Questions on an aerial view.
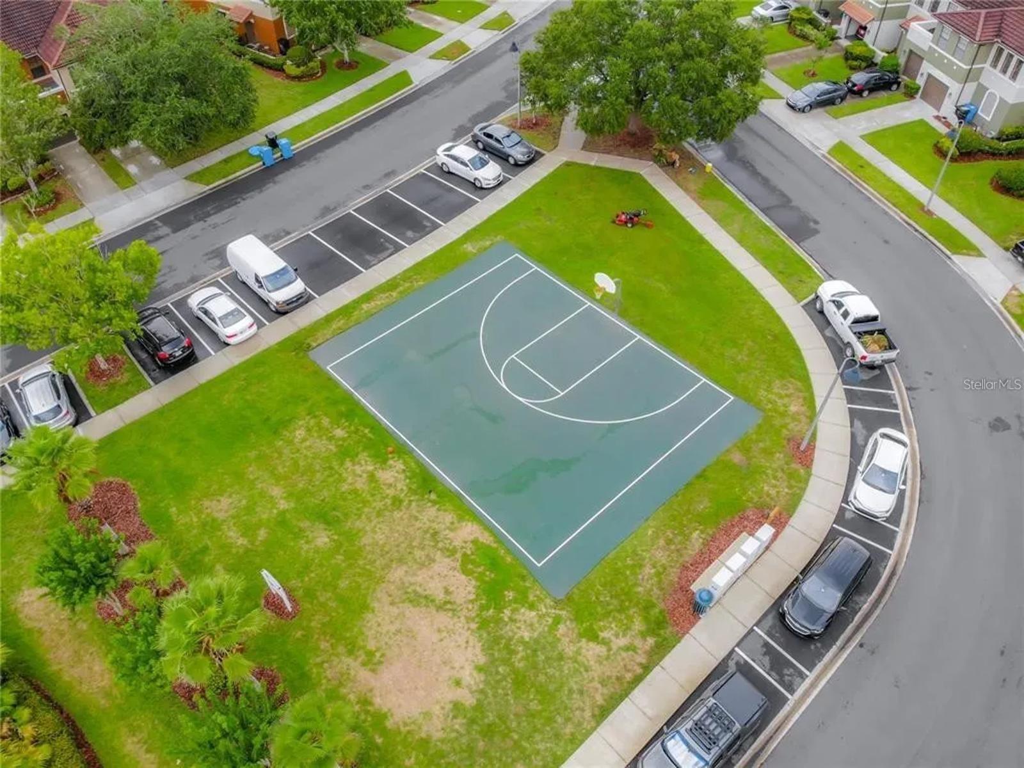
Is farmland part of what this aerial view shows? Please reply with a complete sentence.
No, there's no farmland in this view.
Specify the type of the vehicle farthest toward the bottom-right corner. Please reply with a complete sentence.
The vehicle farthest toward the bottom-right corner in the image is an automobile.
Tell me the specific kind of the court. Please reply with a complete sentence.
It turns out the court is a basketball court.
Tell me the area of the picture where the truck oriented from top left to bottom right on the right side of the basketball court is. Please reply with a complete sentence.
The truck oriented from top left to bottom right on the right side of the basketball court is in the right part of the image.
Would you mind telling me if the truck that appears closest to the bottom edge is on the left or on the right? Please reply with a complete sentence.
It is on the right.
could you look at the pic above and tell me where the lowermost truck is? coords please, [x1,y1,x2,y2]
[633,664,774,768]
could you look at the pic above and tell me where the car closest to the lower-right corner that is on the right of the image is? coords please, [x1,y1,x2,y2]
[781,538,875,645]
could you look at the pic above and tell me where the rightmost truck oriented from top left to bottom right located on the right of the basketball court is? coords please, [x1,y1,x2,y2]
[814,283,908,372]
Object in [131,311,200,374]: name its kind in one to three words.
car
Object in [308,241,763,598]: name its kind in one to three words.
basketball court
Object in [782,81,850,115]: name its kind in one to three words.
car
